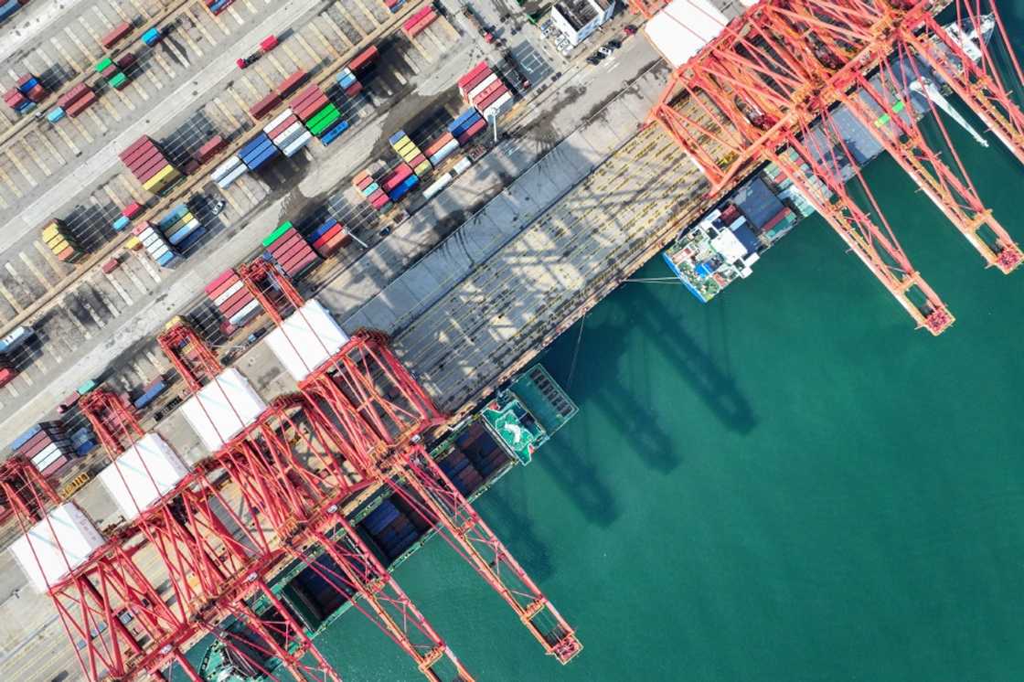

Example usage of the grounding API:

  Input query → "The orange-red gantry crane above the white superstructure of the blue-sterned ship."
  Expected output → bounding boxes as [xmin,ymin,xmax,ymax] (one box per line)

[632,0,955,342]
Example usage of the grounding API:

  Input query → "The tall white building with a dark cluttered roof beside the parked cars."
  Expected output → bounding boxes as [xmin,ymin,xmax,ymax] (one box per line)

[550,0,616,47]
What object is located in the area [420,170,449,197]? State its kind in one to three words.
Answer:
shipping container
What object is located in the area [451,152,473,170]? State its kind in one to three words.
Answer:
vehicle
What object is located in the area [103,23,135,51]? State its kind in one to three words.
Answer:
shipping container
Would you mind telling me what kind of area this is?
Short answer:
port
